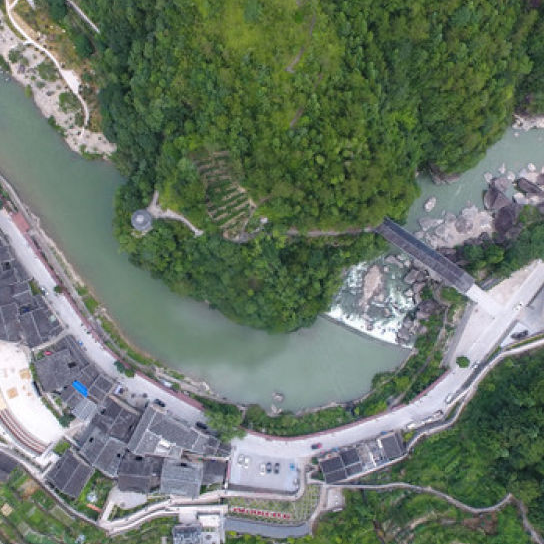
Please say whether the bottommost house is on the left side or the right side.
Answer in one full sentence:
It is on the left.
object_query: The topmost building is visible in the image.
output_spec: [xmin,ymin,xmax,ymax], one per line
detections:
[130,210,154,233]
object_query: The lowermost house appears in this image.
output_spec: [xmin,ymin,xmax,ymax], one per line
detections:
[173,523,203,544]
